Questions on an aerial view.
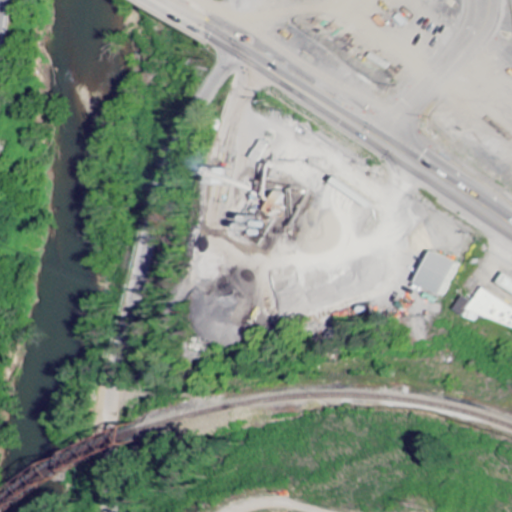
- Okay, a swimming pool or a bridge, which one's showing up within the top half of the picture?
bridge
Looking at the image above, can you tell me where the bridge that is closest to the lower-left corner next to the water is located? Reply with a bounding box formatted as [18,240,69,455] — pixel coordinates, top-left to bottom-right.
[0,422,127,504]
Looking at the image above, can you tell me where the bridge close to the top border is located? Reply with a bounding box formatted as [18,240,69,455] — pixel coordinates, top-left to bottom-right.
[128,0,212,42]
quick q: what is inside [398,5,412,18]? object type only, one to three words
vehicle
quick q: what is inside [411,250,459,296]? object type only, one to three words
shed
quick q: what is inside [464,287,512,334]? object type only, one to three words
building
